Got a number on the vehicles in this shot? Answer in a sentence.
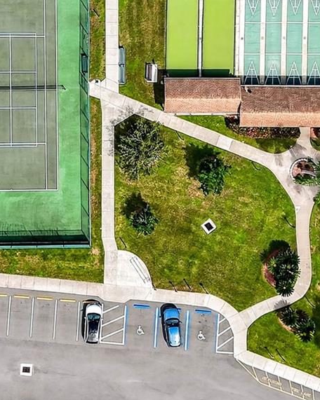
There are 2 vehicles in the image.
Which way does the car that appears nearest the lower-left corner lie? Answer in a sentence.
In this picture, the car that appears nearest the lower-left corner lies up and down.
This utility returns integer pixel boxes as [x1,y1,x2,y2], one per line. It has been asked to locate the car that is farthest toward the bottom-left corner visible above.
[84,302,104,344]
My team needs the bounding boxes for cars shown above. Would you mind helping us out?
[84,302,104,344]
[160,306,180,346]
